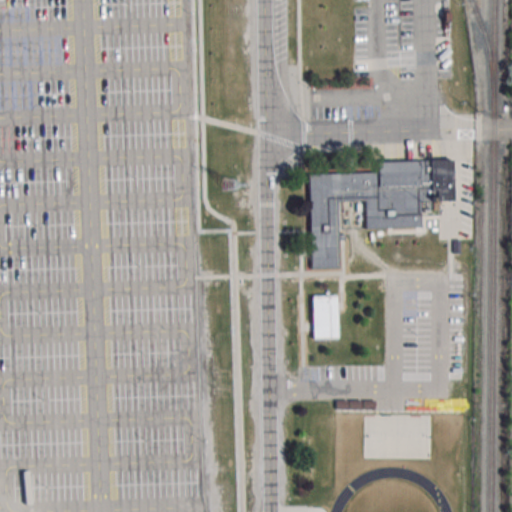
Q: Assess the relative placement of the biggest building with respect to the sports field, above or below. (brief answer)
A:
above it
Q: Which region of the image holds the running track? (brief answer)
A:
bottom right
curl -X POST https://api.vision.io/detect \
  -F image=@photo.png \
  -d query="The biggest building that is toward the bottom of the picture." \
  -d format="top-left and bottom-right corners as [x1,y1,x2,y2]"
[310,290,340,342]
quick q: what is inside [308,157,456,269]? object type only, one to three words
building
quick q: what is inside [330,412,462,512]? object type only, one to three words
sports field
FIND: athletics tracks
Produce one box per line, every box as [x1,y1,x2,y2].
[332,468,452,512]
